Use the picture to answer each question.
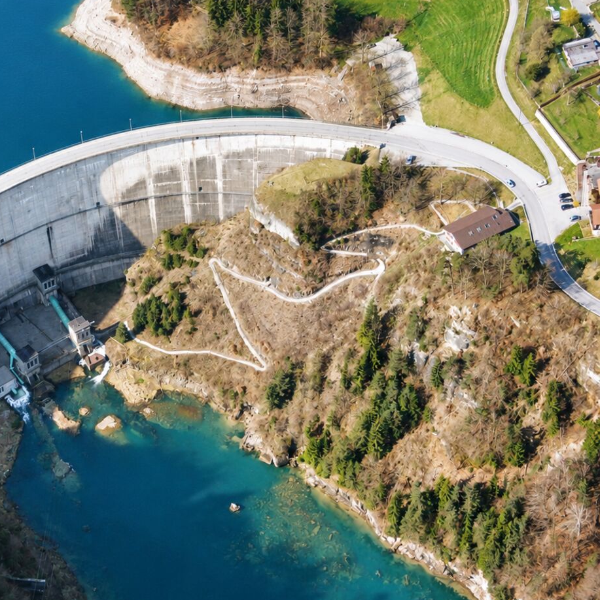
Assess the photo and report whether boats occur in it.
No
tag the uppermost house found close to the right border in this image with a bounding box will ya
[559,35,600,79]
